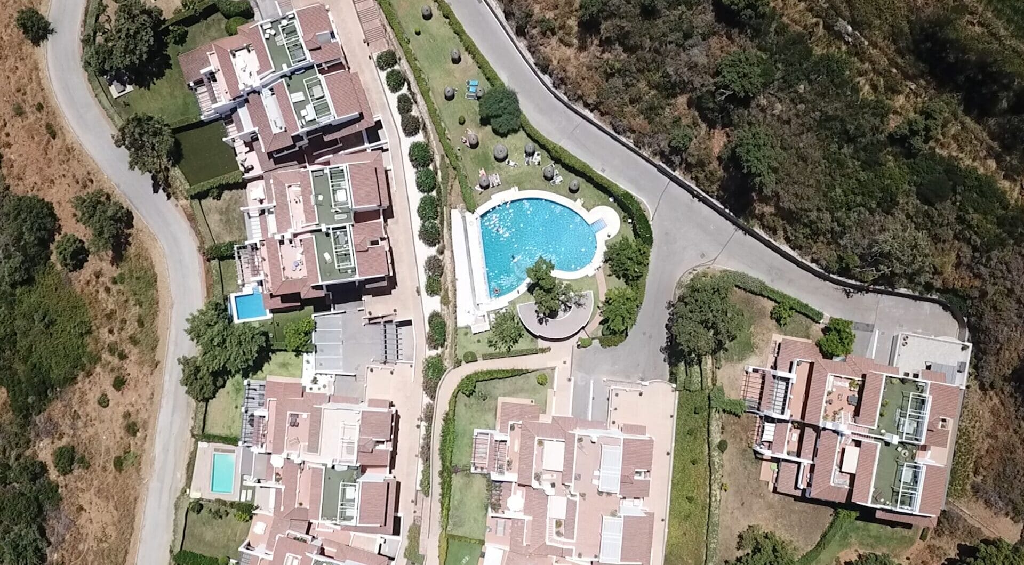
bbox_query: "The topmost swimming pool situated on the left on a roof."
[235,286,266,319]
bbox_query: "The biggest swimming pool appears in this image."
[451,188,620,334]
